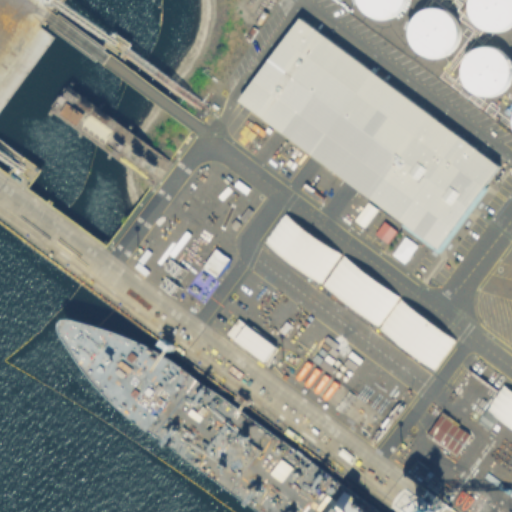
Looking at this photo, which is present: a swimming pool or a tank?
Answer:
tank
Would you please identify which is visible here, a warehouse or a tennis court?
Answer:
warehouse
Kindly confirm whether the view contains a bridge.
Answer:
Yes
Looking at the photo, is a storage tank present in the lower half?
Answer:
No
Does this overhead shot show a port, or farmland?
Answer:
port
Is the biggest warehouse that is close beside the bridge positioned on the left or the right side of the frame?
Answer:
right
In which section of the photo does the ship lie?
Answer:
bottom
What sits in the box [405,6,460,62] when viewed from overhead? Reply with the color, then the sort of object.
white storage tank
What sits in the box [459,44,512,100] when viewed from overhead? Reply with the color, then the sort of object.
white storage tank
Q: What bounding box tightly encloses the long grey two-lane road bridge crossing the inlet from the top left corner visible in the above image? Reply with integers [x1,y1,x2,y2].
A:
[46,14,200,130]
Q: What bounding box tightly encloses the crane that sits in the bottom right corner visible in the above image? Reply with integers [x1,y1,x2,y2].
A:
[396,492,445,512]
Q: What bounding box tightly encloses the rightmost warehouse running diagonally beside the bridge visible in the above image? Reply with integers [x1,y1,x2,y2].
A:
[238,20,500,255]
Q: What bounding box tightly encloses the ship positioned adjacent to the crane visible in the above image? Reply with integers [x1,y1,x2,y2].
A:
[57,320,374,512]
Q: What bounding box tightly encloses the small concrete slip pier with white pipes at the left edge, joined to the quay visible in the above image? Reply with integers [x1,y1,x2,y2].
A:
[0,138,41,188]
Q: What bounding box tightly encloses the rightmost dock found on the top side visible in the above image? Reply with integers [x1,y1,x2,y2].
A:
[48,90,177,186]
